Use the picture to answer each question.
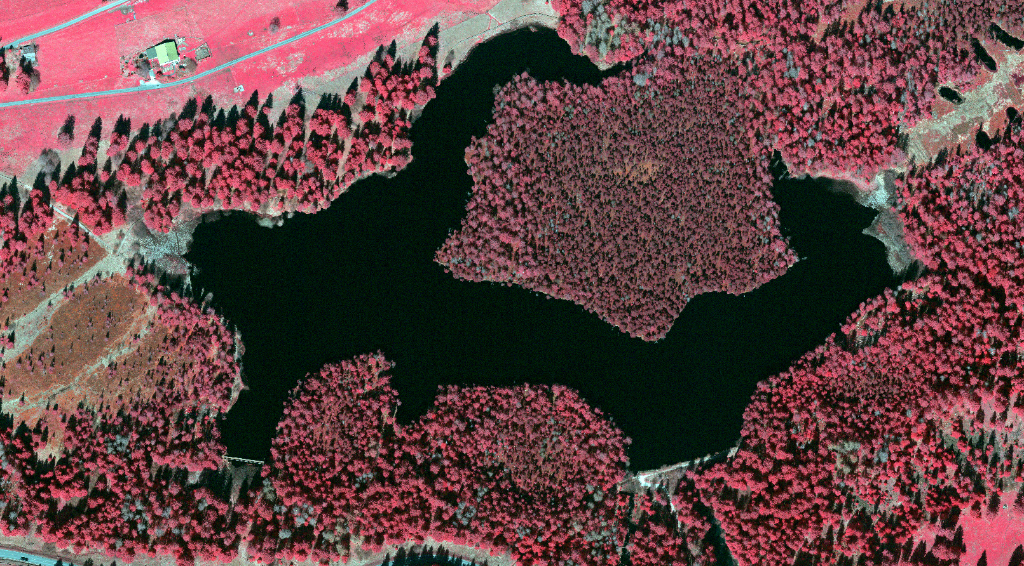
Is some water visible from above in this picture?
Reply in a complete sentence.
Yes, the picture does contain water.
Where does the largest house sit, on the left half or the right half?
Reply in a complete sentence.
You can find the largest house on the left side of the picture.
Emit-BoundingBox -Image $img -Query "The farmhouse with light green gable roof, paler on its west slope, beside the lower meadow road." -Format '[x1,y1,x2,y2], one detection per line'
[154,41,178,66]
